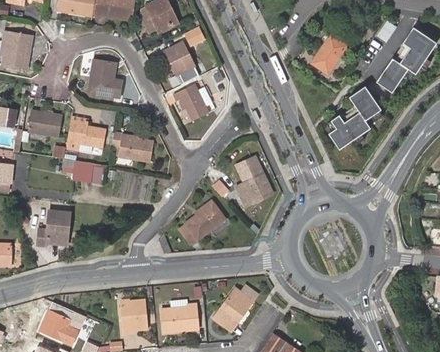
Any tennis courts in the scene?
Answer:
No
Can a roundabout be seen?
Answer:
Yes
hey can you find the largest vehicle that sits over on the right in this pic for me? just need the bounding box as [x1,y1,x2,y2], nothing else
[271,56,288,84]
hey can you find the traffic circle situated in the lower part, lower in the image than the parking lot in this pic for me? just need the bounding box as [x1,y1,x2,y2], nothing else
[276,190,388,303]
